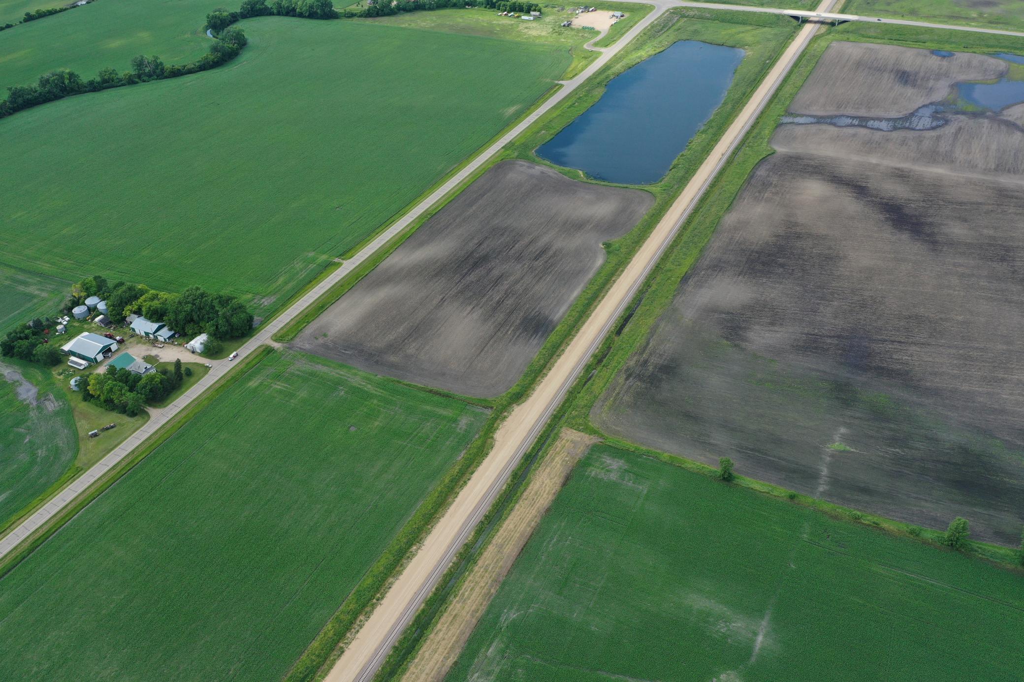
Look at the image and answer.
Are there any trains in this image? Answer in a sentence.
No, I can't see a single train in this photo.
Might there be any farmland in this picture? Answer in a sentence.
Yes, there is farmland in the image.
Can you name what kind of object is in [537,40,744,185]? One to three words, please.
pond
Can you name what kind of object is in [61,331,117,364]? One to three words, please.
barn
